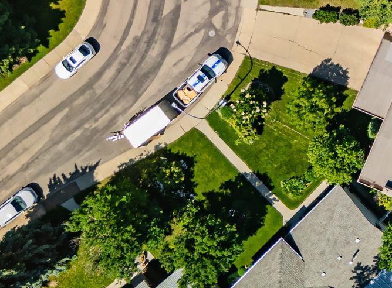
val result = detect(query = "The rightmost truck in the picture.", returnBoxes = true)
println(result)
[169,55,224,112]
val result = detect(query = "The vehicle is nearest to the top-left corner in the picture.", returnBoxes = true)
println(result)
[54,39,95,81]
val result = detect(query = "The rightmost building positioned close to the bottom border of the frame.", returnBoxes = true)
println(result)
[239,181,392,288]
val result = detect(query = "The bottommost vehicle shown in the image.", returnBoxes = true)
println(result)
[0,190,34,227]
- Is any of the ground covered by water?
No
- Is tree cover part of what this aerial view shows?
Yes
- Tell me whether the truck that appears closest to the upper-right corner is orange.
No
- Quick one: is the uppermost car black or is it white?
white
